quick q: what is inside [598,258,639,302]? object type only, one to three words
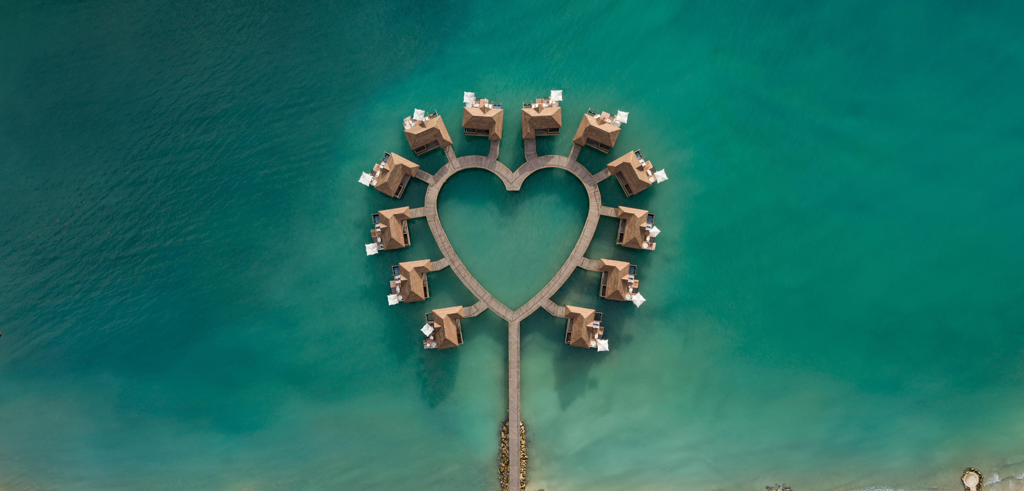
house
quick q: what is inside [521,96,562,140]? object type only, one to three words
house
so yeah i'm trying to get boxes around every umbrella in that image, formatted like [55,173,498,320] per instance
[421,324,433,337]
[631,293,646,308]
[463,92,474,103]
[413,109,425,121]
[551,90,562,101]
[366,243,378,256]
[654,169,668,183]
[387,295,398,306]
[359,172,373,186]
[597,340,609,352]
[616,110,628,123]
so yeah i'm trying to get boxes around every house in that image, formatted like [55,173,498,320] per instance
[401,109,453,156]
[390,259,432,303]
[521,96,562,140]
[370,206,411,252]
[369,151,420,199]
[563,304,604,349]
[616,205,656,252]
[598,258,639,302]
[424,305,465,350]
[605,149,657,197]
[572,107,623,154]
[462,97,503,141]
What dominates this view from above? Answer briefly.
water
